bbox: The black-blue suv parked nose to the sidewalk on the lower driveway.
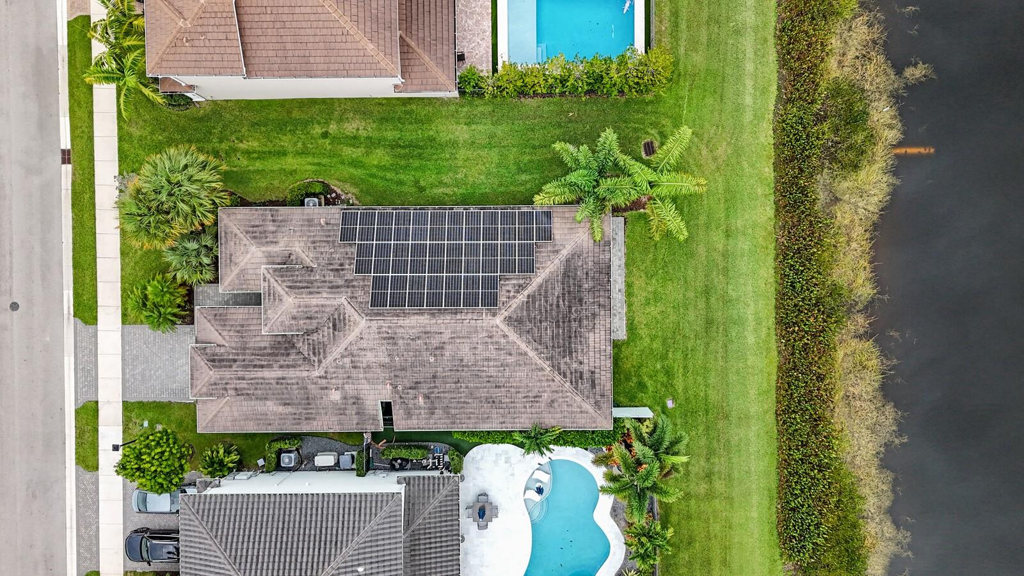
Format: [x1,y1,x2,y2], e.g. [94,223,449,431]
[124,530,178,571]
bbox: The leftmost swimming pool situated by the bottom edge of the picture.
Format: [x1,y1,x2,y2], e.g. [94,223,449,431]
[518,452,616,576]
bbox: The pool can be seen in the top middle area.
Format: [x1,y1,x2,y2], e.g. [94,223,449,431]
[509,0,635,63]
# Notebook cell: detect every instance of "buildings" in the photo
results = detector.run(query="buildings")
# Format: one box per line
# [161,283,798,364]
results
[144,0,459,105]
[188,205,614,434]
[178,469,462,576]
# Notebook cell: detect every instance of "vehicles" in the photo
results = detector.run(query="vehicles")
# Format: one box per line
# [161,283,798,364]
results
[131,483,195,520]
[124,530,178,571]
